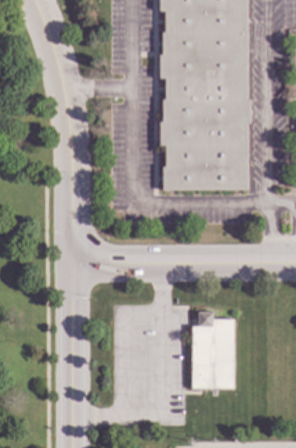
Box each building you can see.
[160,0,250,190]
[192,310,236,397]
